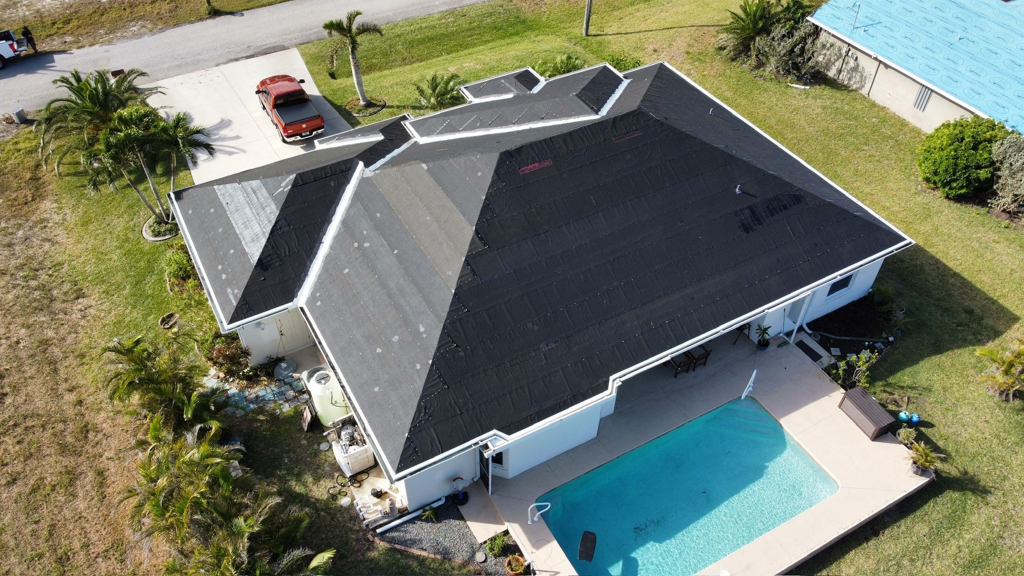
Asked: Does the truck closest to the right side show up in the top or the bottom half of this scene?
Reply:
top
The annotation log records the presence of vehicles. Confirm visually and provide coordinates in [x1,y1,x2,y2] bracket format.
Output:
[248,72,325,143]
[0,27,27,69]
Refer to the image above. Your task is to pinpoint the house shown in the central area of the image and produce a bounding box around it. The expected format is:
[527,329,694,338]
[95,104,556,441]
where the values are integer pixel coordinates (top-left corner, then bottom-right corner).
[164,63,913,511]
